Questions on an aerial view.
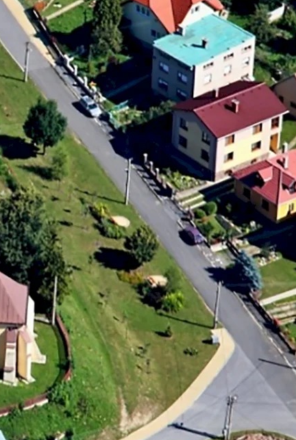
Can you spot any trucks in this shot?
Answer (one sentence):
No, there's no truck here.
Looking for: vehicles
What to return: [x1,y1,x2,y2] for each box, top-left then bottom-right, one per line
[80,94,100,113]
[182,223,205,243]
